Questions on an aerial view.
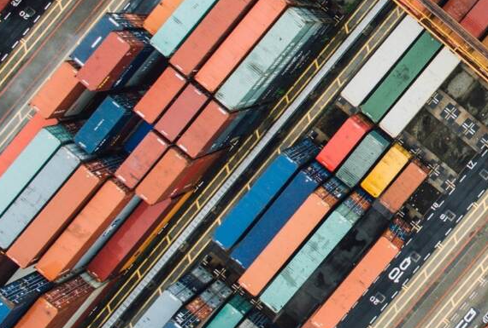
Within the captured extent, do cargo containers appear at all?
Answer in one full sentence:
Yes, looking at the shot, I can spot a cargo container.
